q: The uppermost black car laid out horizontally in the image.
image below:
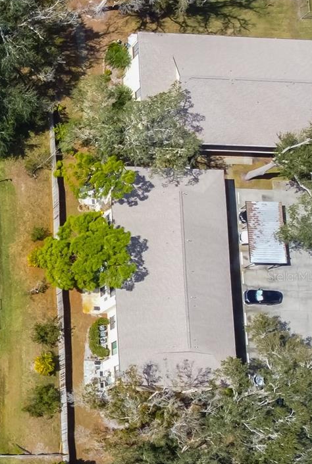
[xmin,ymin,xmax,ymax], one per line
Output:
[244,288,281,306]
